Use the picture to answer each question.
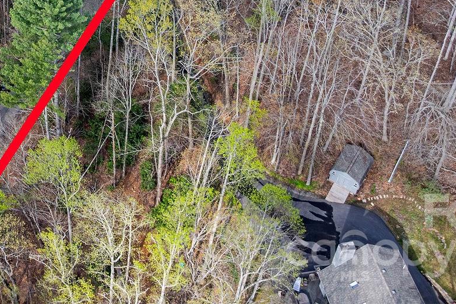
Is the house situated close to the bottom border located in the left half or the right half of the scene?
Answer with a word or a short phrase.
right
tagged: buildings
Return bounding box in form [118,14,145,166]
[317,238,436,304]
[330,136,376,191]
